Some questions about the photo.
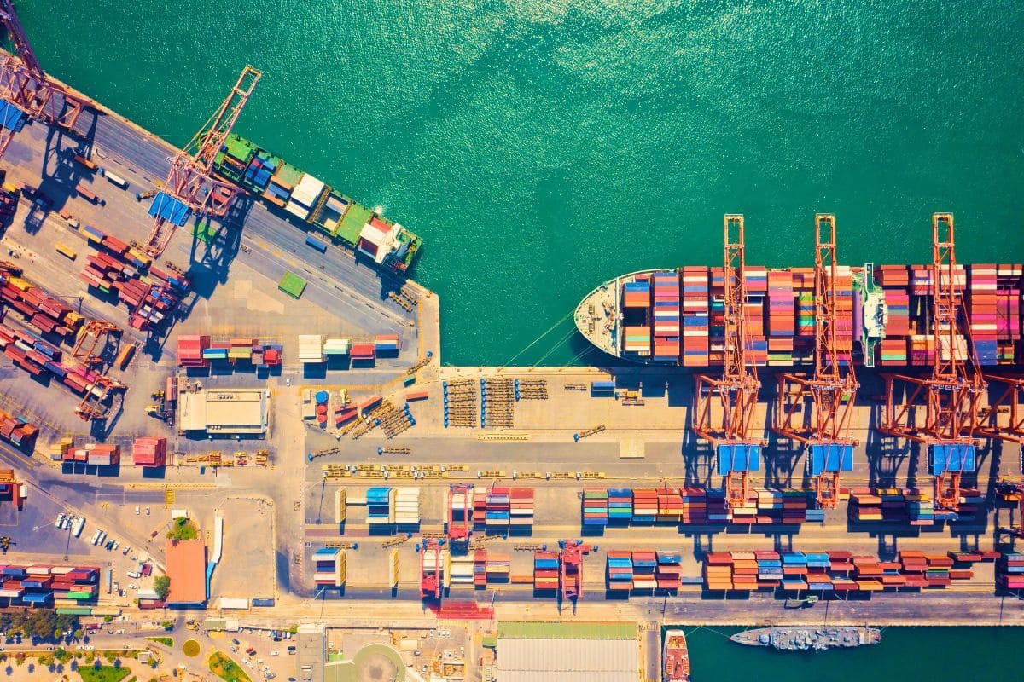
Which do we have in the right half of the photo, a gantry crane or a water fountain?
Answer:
gantry crane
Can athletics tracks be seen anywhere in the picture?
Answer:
No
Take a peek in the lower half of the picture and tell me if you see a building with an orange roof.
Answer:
Yes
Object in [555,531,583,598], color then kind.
red crane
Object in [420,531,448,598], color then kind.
red crane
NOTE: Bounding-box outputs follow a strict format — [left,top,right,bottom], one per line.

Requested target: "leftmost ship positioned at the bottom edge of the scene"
[662,629,691,682]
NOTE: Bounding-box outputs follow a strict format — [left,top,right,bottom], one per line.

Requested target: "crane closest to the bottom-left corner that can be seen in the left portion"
[78,369,139,418]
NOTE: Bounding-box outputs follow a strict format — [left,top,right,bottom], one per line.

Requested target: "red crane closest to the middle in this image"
[447,475,474,540]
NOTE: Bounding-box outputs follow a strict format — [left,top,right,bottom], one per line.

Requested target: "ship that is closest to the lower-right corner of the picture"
[731,619,880,653]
